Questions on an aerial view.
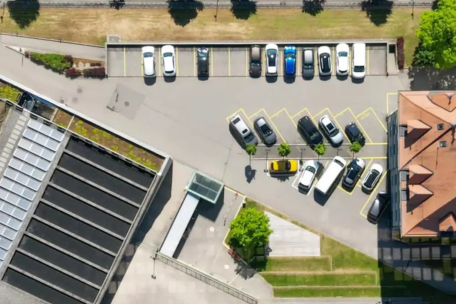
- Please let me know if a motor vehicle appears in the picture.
Yes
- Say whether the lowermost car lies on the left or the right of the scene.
right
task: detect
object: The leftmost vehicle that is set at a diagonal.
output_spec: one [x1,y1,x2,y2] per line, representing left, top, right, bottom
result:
[229,111,257,147]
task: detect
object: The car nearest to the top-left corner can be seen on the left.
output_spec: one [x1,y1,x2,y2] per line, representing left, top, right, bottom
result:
[141,45,156,77]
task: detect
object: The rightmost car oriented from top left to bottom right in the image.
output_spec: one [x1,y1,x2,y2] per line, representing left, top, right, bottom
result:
[345,119,366,146]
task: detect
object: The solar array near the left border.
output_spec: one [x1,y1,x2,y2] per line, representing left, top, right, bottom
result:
[0,119,64,264]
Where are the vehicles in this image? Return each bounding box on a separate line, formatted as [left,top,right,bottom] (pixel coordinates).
[319,115,343,146]
[345,119,366,146]
[343,157,365,188]
[254,115,277,147]
[269,158,297,172]
[297,113,324,147]
[141,45,156,77]
[351,42,367,78]
[335,44,350,76]
[283,46,298,75]
[248,47,263,76]
[361,162,382,192]
[298,162,318,192]
[318,47,332,76]
[316,157,344,196]
[229,111,257,147]
[301,48,315,77]
[161,44,176,76]
[367,192,390,224]
[264,44,279,75]
[195,46,210,76]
